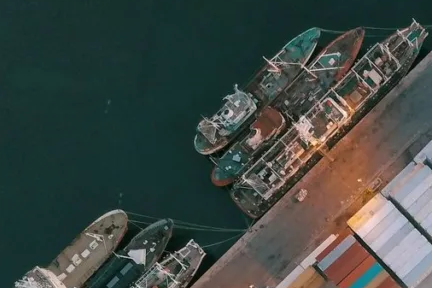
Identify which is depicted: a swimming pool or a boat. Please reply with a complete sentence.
Of the two, only a boat appears.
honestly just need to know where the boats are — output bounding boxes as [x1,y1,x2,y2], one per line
[128,239,211,288]
[86,218,178,288]
[205,25,366,194]
[193,26,322,158]
[225,18,425,222]
[13,208,134,288]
